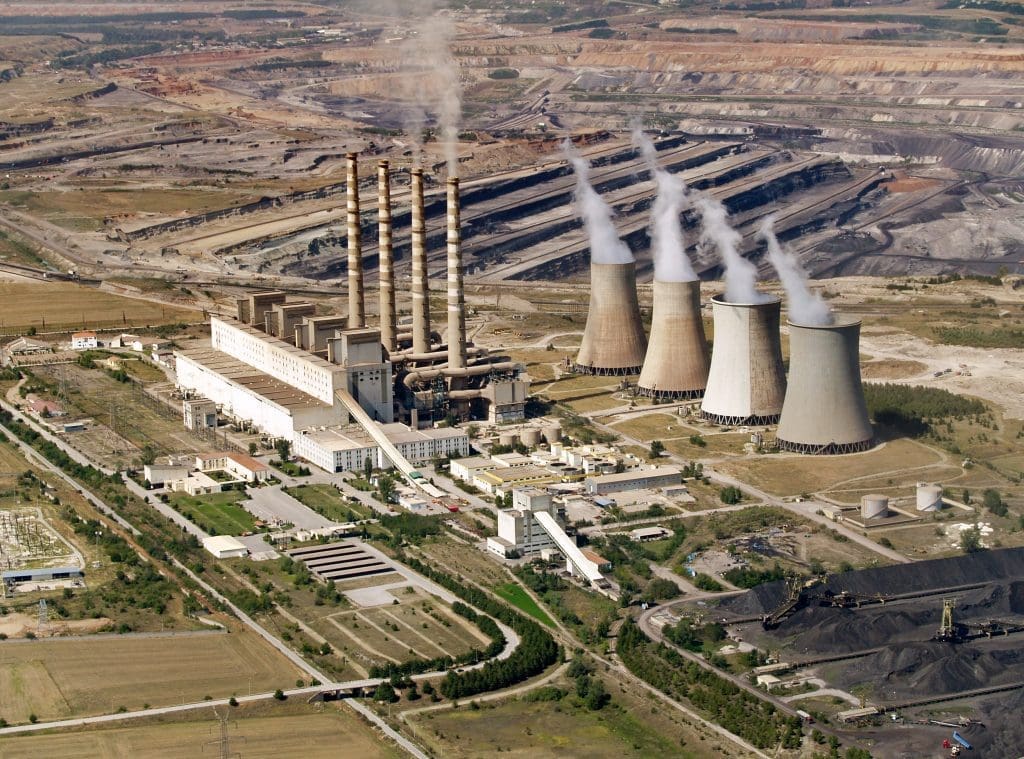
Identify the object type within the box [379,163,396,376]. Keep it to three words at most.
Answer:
chimney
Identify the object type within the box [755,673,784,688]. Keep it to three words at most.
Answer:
building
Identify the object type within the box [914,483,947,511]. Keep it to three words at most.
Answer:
storage tank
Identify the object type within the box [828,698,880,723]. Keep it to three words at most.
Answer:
house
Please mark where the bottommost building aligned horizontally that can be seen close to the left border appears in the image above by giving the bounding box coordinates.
[3,565,96,590]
